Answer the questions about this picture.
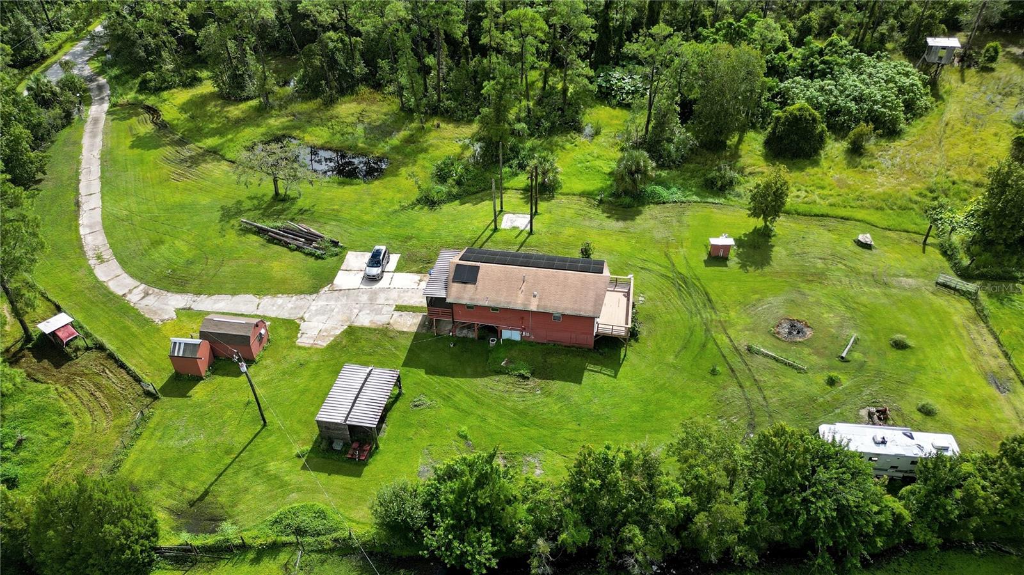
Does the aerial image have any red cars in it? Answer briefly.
No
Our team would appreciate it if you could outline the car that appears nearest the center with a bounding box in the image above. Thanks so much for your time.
[364,247,388,278]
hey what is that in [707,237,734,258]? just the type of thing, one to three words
shed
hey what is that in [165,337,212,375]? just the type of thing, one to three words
shed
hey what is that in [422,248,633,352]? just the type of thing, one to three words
house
